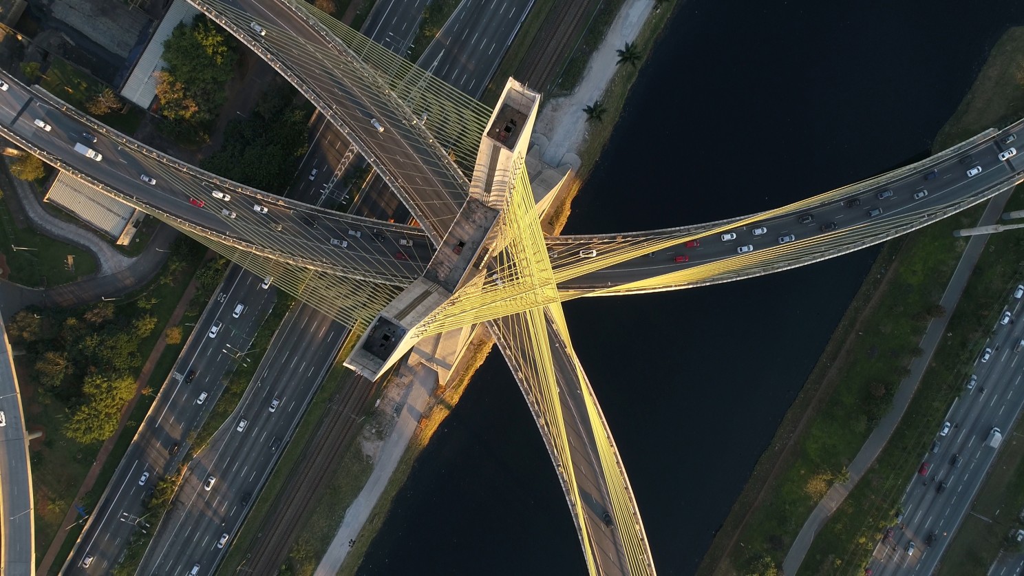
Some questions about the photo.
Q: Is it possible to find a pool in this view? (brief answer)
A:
No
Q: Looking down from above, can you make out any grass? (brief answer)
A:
Yes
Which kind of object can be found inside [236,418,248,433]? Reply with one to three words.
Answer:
vehicle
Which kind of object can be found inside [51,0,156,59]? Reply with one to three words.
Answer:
building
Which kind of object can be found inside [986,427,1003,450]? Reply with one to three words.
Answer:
vehicle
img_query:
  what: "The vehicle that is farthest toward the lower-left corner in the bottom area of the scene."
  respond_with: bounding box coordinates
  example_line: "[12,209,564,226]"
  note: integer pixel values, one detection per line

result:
[83,553,95,568]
